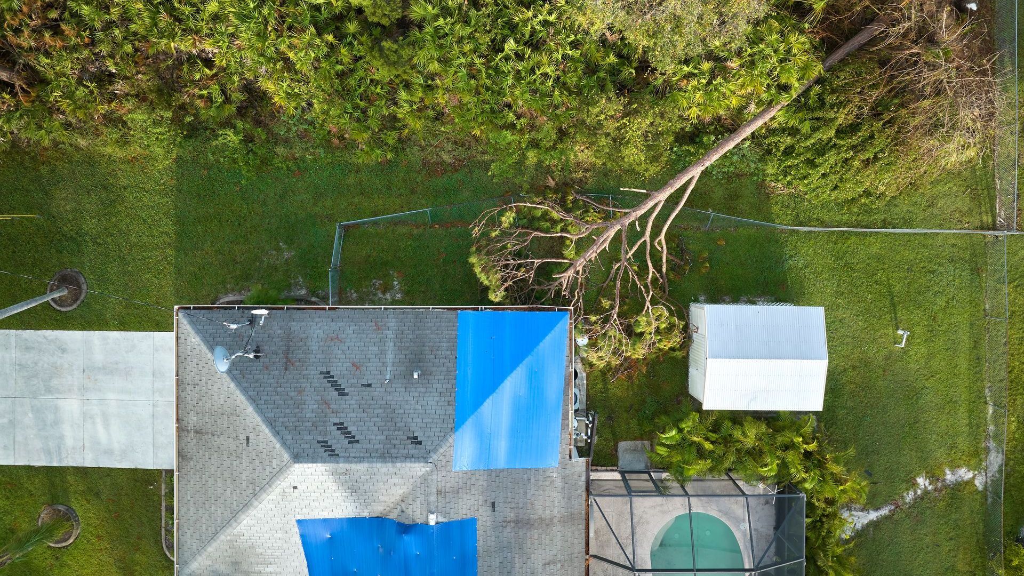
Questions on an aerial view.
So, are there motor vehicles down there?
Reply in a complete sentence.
No, I find no motor vehicle anywhere in the image.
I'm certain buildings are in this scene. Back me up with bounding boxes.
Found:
[687,299,832,411]
[174,306,593,576]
